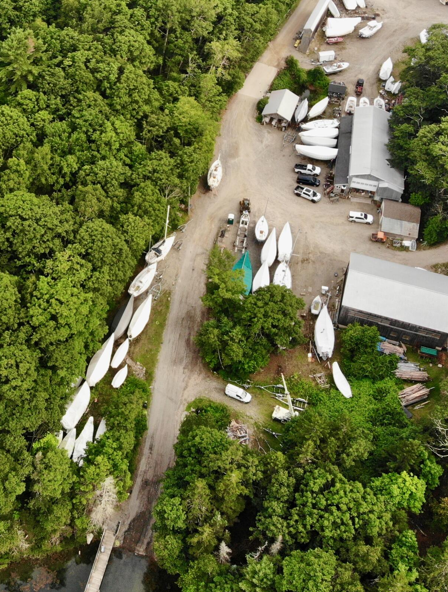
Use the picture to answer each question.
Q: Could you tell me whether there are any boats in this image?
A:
Yes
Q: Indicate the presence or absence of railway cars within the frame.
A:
No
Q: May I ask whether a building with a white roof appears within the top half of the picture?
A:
Yes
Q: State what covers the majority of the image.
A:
trees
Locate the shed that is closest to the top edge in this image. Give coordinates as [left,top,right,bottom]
[299,0,331,50]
